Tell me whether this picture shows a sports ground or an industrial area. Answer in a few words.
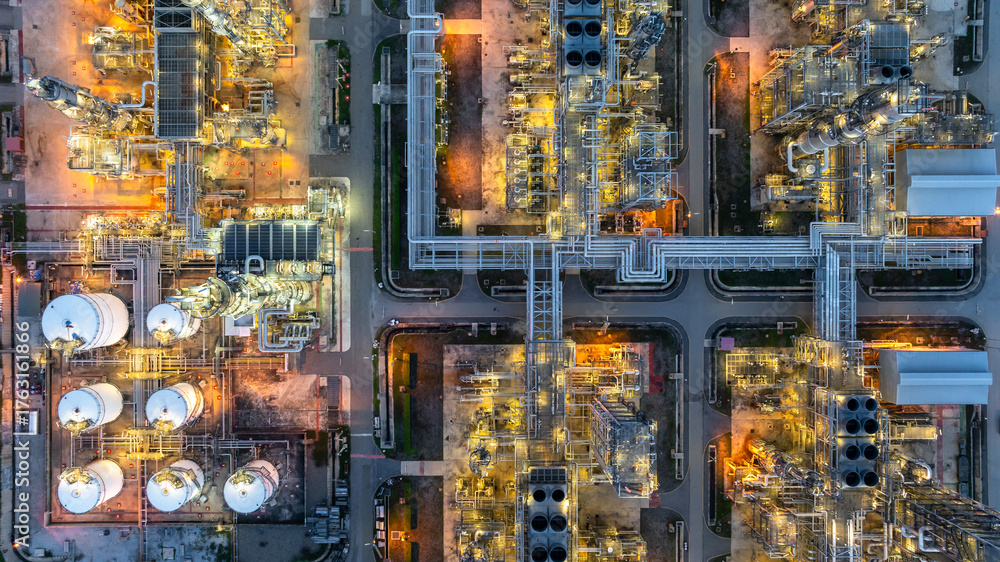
industrial area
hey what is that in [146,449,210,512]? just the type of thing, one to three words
storage tank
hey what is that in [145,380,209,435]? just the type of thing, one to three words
storage tank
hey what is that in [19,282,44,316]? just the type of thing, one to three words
building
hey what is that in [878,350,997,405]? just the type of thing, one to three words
building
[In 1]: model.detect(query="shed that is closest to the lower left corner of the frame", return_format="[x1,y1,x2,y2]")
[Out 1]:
[27,411,41,435]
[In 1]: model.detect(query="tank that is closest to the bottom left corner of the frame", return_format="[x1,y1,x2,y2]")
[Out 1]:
[57,458,126,514]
